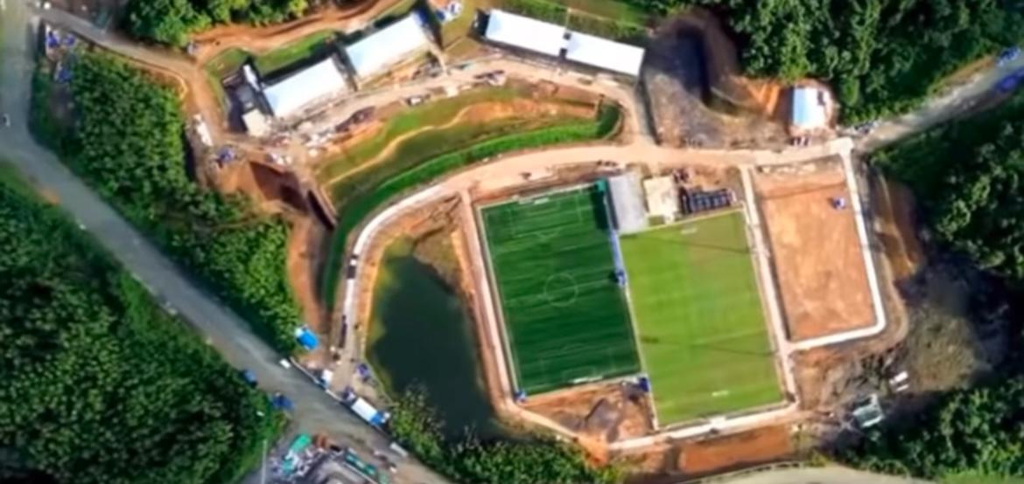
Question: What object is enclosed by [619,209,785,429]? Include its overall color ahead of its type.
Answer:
green soccer field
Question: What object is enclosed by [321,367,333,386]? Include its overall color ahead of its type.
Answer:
white vehicle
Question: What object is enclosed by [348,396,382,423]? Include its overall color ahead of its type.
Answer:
white truck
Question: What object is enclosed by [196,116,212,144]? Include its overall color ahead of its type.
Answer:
white vehicle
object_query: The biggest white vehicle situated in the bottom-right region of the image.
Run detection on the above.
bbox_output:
[886,371,908,386]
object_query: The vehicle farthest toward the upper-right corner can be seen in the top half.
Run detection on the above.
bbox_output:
[1001,47,1022,63]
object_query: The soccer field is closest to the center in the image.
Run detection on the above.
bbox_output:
[481,184,641,400]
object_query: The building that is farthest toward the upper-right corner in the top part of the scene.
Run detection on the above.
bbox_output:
[793,85,827,125]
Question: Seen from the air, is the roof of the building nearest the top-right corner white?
Yes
